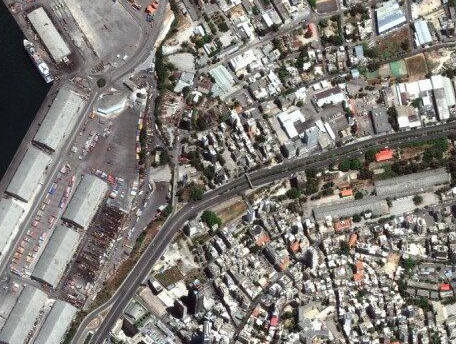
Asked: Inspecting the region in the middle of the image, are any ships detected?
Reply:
No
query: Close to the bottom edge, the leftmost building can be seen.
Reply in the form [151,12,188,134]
[0,284,47,344]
